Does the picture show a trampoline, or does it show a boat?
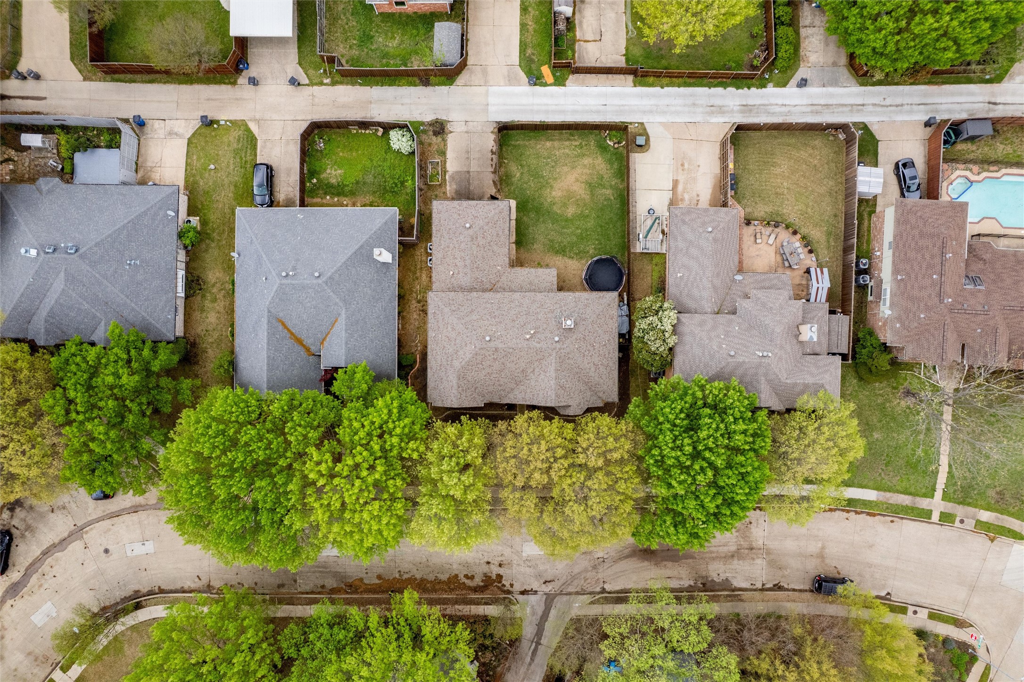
trampoline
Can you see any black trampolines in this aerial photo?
Yes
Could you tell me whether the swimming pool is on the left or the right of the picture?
right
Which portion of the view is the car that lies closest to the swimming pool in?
top right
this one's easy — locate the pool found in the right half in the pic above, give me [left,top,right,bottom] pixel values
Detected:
[946,173,1024,230]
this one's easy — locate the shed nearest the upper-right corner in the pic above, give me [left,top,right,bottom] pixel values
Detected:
[955,119,993,141]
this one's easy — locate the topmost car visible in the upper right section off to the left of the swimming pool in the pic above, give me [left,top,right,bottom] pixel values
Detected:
[894,156,923,199]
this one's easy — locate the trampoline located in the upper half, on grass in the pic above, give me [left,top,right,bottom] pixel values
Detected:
[583,252,625,291]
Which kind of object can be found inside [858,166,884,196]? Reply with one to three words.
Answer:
shed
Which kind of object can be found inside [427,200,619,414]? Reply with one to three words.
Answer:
house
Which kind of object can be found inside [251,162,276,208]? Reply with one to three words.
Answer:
car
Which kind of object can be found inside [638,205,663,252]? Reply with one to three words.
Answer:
trailer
